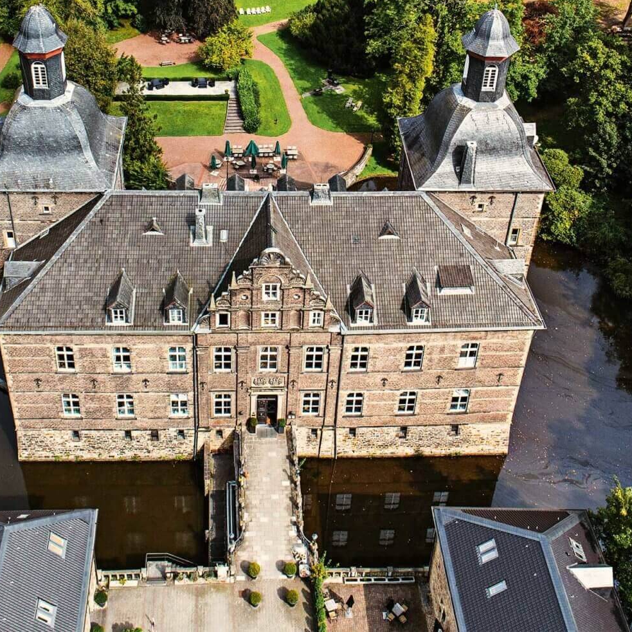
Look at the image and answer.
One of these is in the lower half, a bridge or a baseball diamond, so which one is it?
bridge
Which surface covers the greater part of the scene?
buildings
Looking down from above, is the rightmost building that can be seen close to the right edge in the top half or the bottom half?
bottom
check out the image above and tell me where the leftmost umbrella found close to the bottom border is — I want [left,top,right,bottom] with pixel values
[343,590,358,621]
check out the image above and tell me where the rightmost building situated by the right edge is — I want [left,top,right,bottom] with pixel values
[429,503,631,632]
